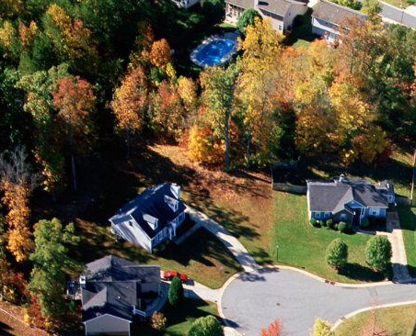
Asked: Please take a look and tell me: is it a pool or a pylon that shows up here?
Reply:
pool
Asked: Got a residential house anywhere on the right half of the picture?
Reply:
Yes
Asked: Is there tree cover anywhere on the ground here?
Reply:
Yes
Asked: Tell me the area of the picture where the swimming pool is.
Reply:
top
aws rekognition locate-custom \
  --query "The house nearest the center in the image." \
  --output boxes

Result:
[111,182,185,248]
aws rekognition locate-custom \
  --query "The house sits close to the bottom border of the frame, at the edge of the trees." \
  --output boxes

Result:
[67,255,161,335]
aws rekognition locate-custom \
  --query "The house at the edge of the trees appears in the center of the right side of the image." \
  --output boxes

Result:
[303,173,394,225]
